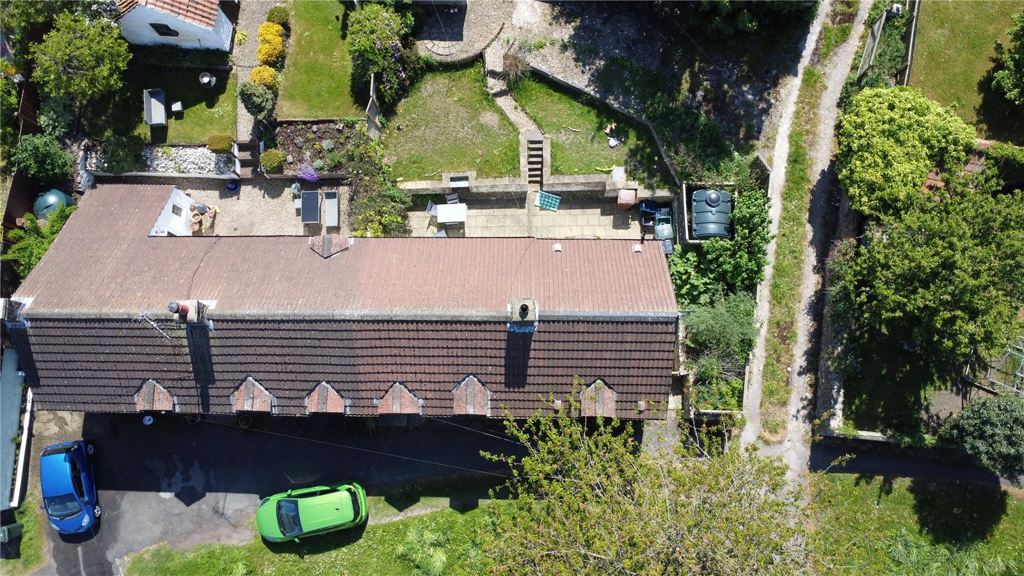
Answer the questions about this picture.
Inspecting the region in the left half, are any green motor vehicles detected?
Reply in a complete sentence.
Yes, the scene does show a green motor vehicle in the left half.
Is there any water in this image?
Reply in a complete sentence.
No, there is no water in the image.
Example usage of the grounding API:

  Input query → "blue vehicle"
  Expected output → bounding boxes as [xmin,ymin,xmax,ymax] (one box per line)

[37,444,103,535]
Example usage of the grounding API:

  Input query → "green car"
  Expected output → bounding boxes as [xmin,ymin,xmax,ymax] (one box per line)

[259,479,369,546]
